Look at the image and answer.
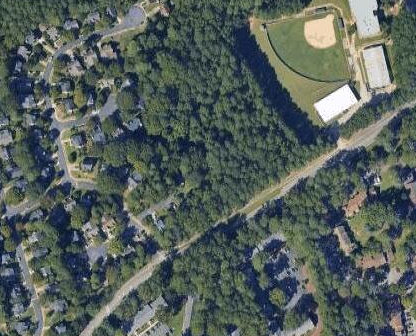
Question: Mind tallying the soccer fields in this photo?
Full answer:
The count of soccer fields is 0.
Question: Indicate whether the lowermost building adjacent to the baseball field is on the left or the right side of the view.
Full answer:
The lowermost building adjacent to the baseball field sits on the right side.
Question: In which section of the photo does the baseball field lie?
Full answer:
You can find the baseball field in the top right area of the picture.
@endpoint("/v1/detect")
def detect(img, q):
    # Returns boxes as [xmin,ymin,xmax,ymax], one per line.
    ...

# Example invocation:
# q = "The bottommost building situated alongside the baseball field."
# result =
[314,84,358,122]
